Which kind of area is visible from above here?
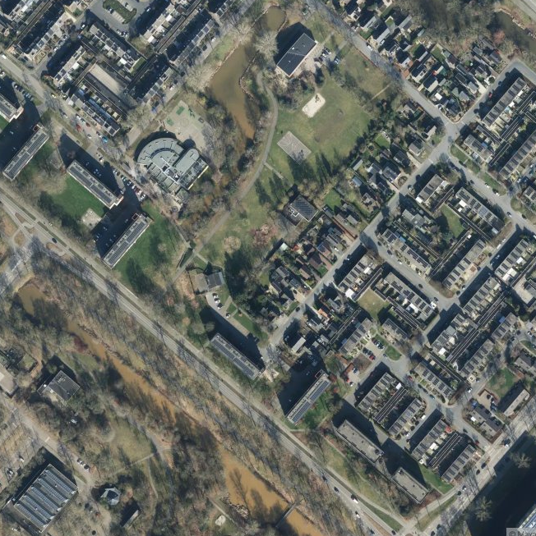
residential area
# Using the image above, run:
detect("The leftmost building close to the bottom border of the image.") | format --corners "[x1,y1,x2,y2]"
[2,464,77,536]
